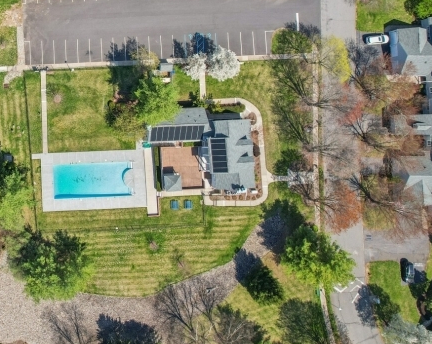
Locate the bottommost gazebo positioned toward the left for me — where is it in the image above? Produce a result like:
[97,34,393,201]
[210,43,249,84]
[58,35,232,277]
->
[163,175,182,191]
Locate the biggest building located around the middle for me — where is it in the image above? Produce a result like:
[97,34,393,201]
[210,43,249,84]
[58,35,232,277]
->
[148,108,255,190]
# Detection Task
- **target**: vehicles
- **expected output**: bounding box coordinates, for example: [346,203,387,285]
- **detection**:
[362,34,385,45]
[402,261,416,283]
